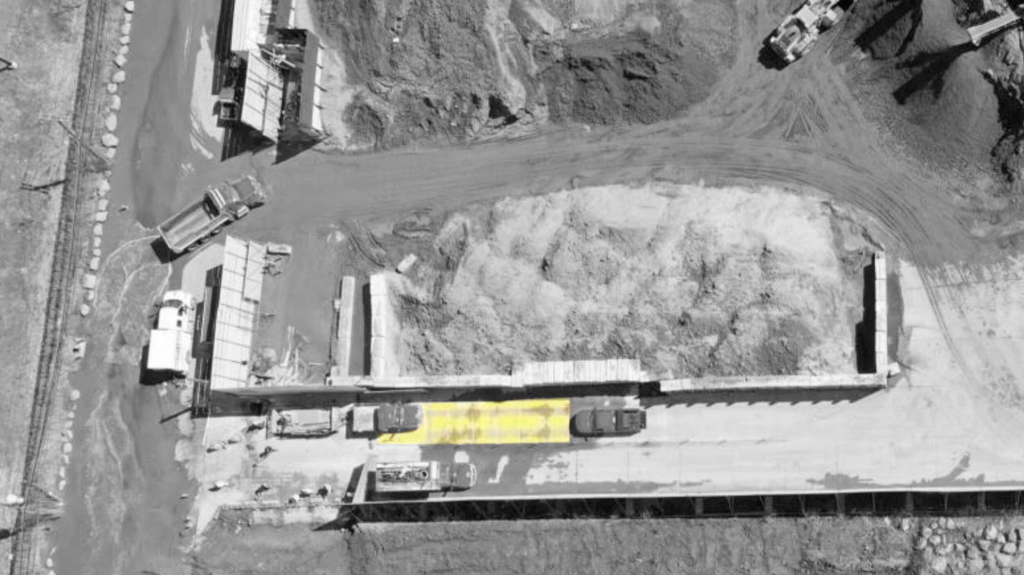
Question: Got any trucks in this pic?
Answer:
Yes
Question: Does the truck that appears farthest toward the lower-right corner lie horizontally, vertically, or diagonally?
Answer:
horizontally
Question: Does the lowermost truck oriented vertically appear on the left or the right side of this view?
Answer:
left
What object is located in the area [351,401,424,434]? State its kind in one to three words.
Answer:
truck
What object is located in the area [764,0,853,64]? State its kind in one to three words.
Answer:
work vehicle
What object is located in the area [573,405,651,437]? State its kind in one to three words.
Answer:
truck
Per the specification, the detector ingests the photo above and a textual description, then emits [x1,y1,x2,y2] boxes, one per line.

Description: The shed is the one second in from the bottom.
[240,51,286,151]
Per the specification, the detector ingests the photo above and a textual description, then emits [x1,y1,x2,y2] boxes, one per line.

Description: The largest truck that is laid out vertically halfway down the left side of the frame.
[149,291,197,375]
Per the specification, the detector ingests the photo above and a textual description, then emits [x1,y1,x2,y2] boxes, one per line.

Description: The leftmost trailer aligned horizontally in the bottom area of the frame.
[264,404,334,437]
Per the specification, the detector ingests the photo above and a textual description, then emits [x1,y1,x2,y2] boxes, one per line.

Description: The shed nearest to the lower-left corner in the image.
[210,236,269,392]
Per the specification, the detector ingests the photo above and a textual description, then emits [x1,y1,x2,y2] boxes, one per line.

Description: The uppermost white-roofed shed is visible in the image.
[231,0,282,74]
